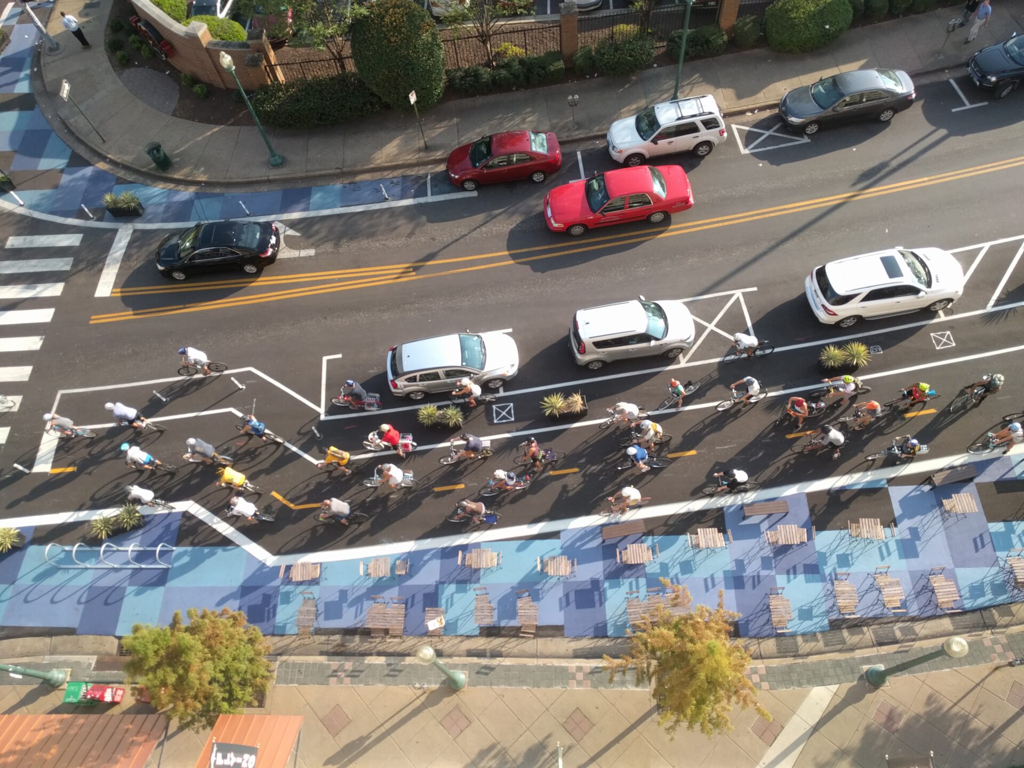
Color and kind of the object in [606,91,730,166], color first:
white car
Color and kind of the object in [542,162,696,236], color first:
red car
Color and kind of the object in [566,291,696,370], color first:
white car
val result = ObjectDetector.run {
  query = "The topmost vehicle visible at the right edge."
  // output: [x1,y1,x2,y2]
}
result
[966,33,1024,99]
